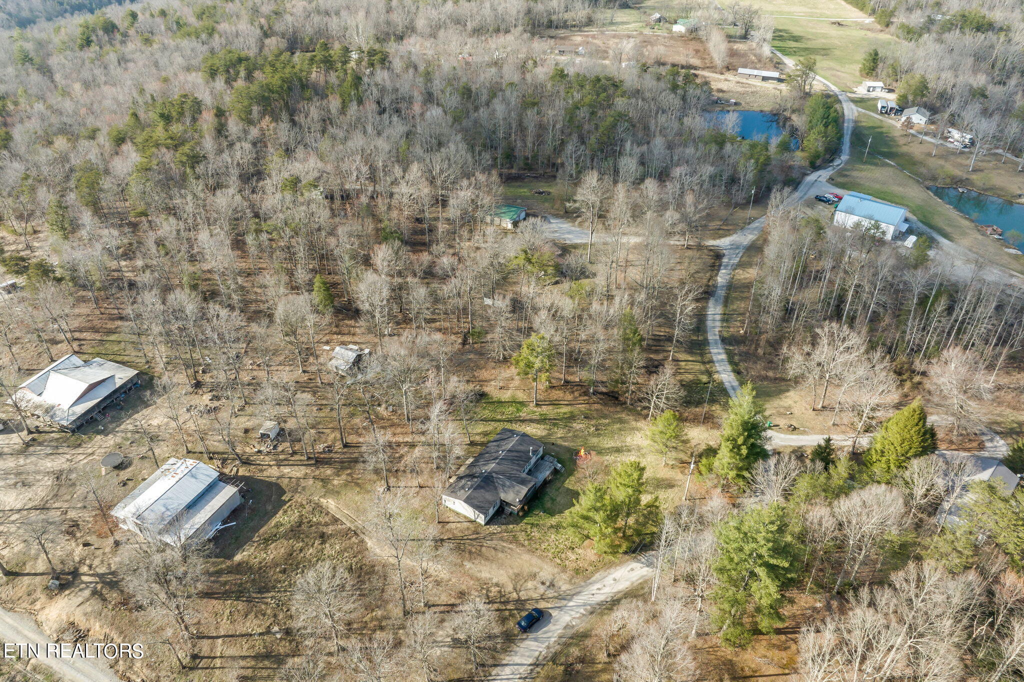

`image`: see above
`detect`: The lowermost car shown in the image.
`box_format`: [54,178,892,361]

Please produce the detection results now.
[515,607,546,632]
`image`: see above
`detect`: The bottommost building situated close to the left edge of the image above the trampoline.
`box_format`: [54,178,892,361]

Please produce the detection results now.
[0,350,141,437]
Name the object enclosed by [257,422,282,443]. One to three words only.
shed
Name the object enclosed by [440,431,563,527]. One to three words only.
house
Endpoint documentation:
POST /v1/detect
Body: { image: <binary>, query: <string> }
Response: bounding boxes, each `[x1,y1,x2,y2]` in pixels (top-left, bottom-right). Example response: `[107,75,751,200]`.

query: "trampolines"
[98,455,123,473]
